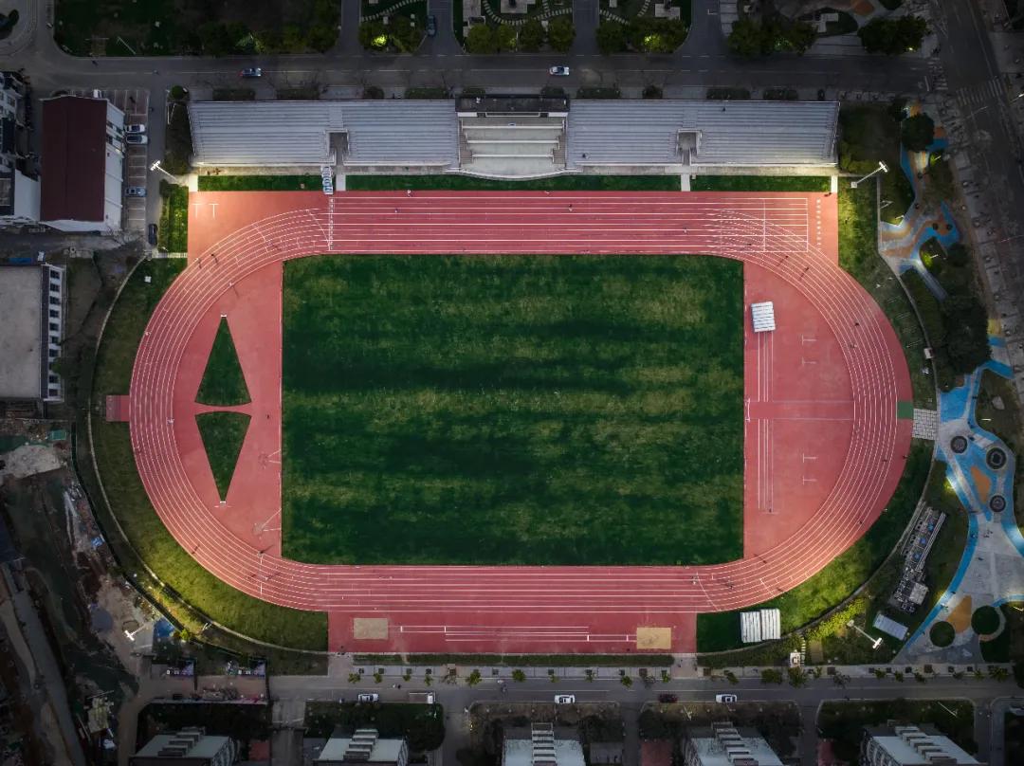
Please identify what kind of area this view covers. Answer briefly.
sports ground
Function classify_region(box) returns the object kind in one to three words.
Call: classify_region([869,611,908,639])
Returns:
shed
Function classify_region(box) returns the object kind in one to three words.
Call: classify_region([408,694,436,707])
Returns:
vehicle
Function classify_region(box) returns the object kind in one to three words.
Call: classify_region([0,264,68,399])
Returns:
building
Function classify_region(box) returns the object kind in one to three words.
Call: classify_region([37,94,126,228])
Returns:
building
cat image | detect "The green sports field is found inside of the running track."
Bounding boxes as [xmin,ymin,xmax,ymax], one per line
[282,253,744,566]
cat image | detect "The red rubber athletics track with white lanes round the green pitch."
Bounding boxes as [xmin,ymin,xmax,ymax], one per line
[106,191,913,653]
